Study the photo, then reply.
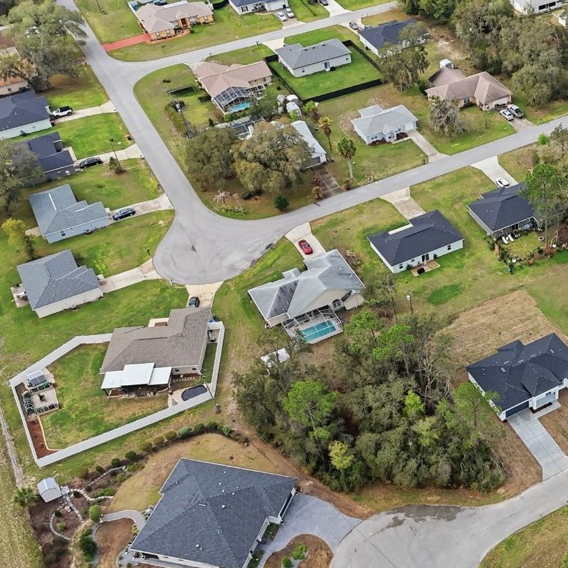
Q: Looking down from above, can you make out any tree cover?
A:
Yes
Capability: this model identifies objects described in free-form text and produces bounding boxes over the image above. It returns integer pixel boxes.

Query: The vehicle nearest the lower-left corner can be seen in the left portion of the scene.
[187,293,201,308]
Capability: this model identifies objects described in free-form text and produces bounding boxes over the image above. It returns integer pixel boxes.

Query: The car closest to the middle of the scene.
[297,238,315,254]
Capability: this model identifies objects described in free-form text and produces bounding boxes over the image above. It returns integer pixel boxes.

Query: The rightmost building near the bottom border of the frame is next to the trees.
[128,456,301,568]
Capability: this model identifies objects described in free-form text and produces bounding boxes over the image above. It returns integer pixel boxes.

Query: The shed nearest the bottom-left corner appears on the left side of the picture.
[28,473,64,506]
